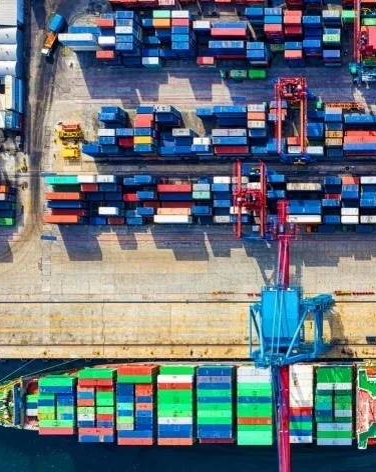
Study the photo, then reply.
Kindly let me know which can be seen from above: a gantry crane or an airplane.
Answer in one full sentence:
Of the two, only a gantry crane appears.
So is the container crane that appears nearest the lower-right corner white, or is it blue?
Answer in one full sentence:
In this view, the container crane that appears nearest the lower-right corner is blue.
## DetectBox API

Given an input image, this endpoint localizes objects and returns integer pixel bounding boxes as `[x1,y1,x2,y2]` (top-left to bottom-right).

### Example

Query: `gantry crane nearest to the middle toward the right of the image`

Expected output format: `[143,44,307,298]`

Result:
[234,160,279,241]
